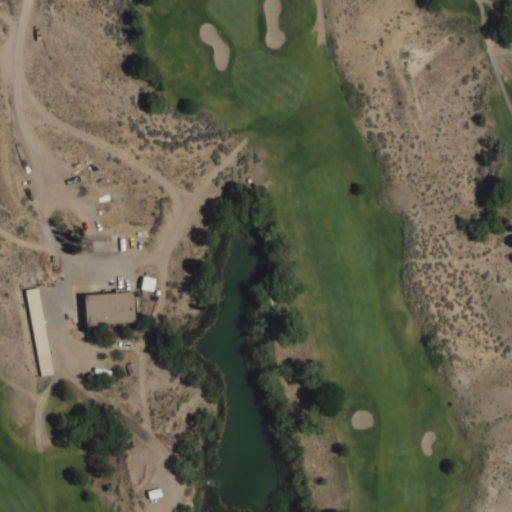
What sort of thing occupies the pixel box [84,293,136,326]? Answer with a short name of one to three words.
building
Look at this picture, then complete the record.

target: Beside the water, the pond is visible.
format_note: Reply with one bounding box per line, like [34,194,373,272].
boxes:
[194,235,278,511]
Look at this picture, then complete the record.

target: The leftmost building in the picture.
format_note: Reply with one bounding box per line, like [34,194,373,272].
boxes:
[26,288,54,376]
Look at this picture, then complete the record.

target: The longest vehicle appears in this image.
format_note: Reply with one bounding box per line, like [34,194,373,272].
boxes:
[18,145,31,172]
